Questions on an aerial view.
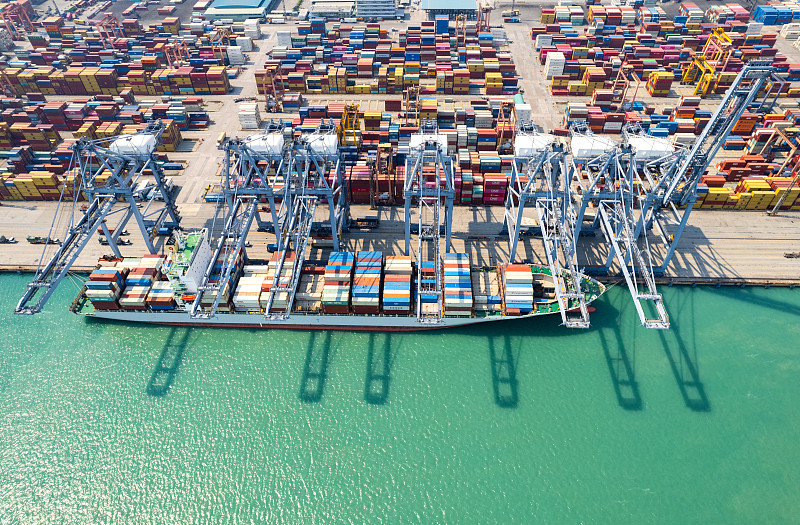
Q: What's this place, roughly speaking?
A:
port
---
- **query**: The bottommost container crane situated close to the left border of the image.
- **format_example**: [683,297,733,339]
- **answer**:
[10,120,188,321]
